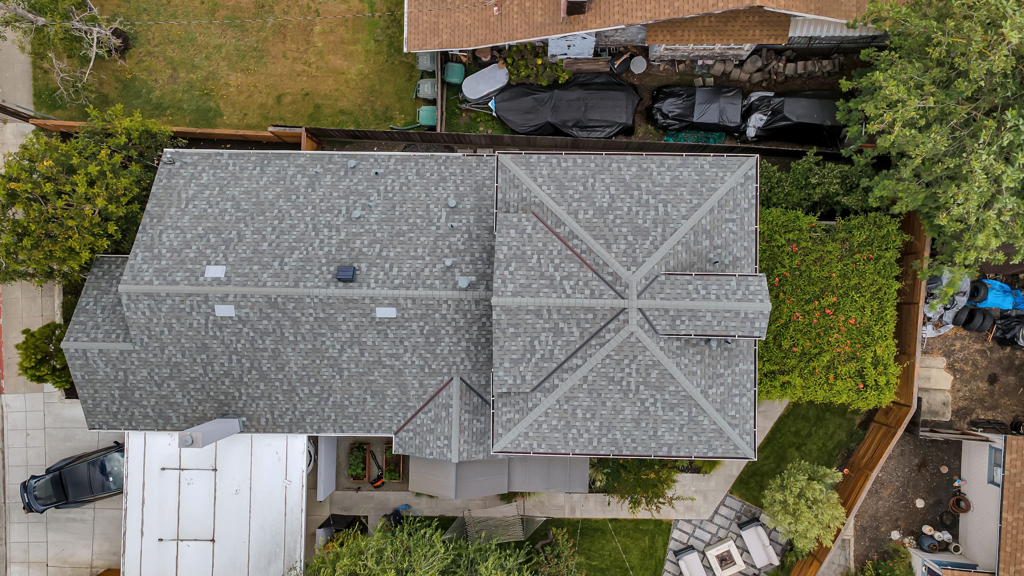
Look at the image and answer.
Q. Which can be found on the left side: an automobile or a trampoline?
automobile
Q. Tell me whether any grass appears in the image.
Yes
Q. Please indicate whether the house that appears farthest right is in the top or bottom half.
bottom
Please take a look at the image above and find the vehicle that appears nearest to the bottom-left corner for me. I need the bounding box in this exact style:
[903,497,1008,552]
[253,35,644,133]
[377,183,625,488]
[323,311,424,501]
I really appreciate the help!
[17,438,125,515]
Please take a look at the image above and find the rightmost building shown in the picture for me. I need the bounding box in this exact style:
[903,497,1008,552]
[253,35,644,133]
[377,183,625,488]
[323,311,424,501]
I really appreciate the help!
[909,435,1024,576]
